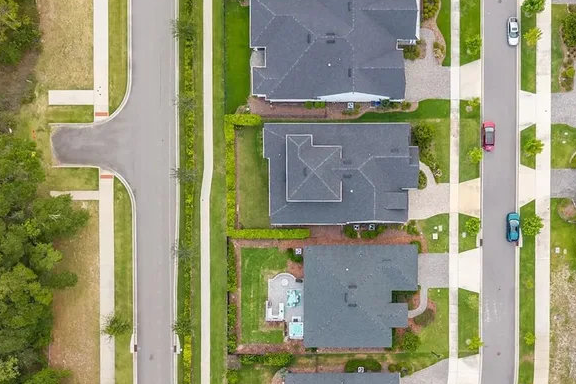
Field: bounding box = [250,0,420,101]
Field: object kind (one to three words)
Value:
house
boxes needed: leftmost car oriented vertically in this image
[482,122,495,150]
